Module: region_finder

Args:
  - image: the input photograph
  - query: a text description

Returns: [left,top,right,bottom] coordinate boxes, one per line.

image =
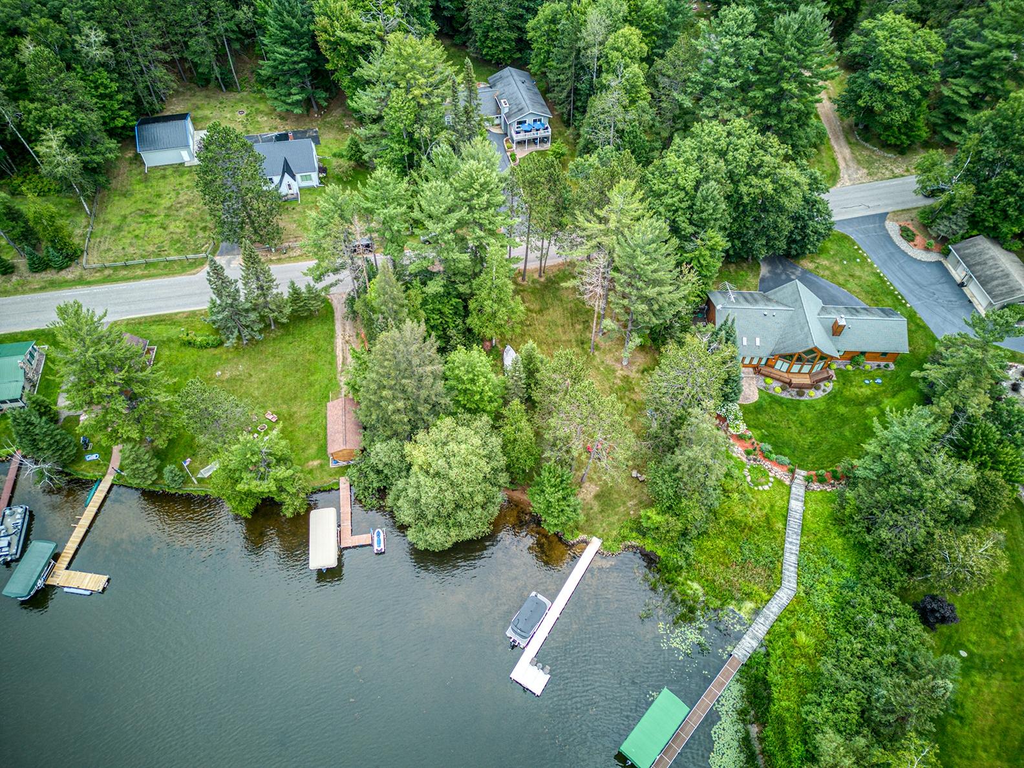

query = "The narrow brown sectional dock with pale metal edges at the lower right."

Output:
[650,653,746,768]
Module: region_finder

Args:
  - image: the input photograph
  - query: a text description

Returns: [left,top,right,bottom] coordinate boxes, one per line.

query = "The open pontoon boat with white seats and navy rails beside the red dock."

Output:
[0,505,29,563]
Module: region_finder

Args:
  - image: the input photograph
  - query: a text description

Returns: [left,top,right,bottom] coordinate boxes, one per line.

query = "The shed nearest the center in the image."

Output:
[327,391,365,469]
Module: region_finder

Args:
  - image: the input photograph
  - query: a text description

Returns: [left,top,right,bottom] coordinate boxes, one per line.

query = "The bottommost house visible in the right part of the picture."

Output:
[706,275,910,393]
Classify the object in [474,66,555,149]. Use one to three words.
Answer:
house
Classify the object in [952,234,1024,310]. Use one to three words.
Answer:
building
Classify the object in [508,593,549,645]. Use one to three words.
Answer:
boat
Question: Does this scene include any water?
Yes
